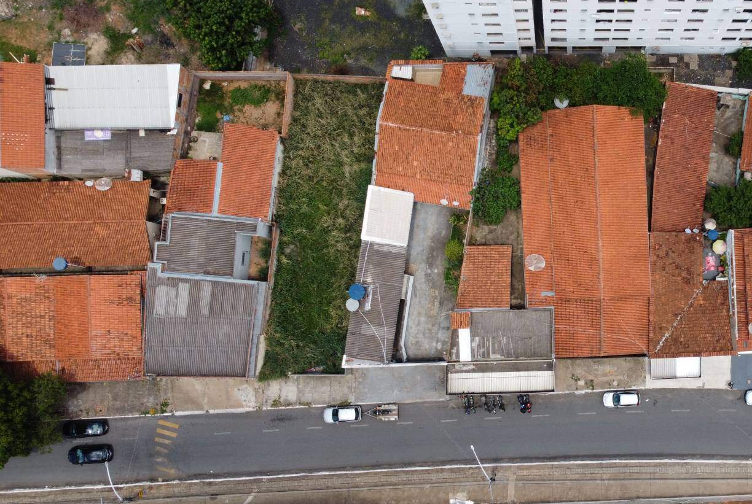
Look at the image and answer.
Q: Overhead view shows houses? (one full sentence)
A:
Yes, a house is visible in the scene.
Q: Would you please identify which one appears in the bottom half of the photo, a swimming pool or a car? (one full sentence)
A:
What appears in the bottom half of the photo is a car.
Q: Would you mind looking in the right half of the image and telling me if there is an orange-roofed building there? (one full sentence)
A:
Yes, there is an orange-roofed building in the right half of the image.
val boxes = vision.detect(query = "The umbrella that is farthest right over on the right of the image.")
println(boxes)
[712,239,726,254]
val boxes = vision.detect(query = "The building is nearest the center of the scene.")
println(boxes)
[344,185,417,362]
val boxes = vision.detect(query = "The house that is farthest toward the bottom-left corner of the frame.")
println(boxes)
[0,273,144,382]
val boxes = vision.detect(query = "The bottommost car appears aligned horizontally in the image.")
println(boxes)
[70,444,115,463]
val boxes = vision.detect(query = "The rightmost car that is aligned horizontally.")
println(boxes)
[603,390,639,407]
